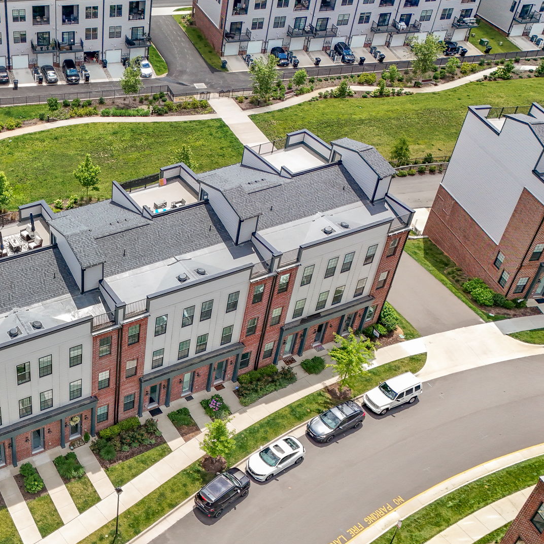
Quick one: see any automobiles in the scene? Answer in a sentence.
Yes, an automobile appears in the view.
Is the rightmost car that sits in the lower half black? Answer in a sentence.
No, from above the rightmost car that sits in the lower half looks white.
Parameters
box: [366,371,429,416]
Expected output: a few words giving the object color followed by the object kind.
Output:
white car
